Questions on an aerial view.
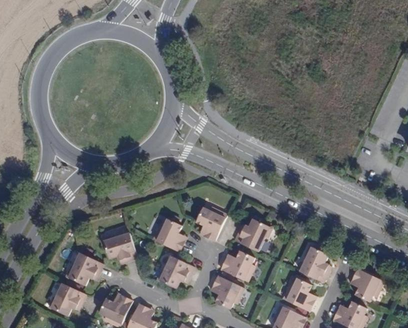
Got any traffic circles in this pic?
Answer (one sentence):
Yes, a traffic circle is visible in the scene.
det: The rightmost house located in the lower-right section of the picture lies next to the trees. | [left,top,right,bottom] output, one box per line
[352,269,384,303]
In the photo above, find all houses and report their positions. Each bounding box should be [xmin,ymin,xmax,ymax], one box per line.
[70,252,104,284]
[274,306,308,328]
[333,301,369,328]
[99,291,130,324]
[300,248,332,282]
[286,278,317,310]
[128,303,160,328]
[52,283,86,313]
[239,220,270,250]
[211,276,244,308]
[157,219,188,248]
[160,256,192,287]
[222,251,258,281]
[352,269,384,303]
[104,232,136,261]
[197,207,229,239]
